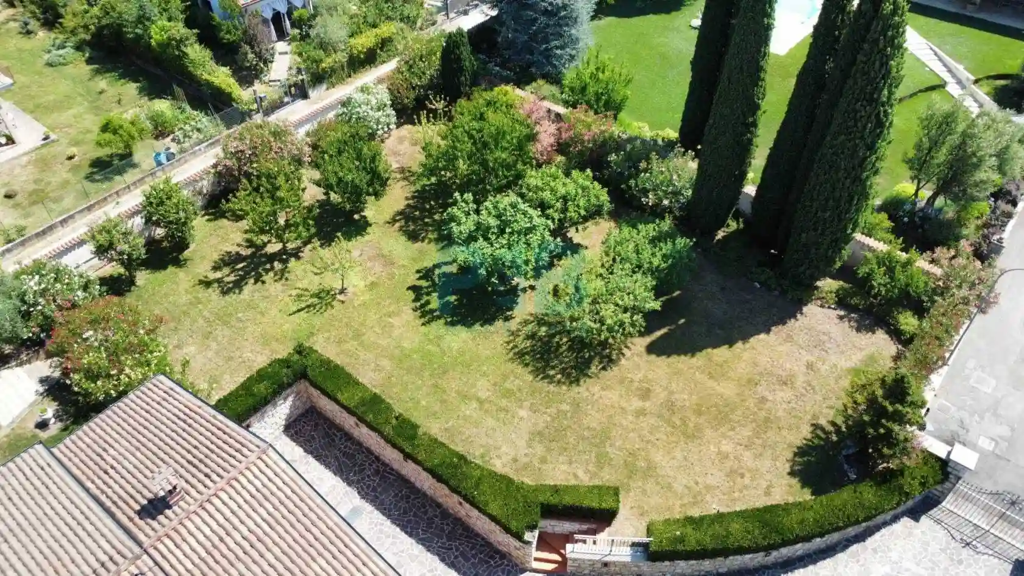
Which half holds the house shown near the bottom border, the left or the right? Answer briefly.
left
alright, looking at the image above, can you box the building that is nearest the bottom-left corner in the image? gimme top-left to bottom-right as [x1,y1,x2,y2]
[0,373,406,576]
